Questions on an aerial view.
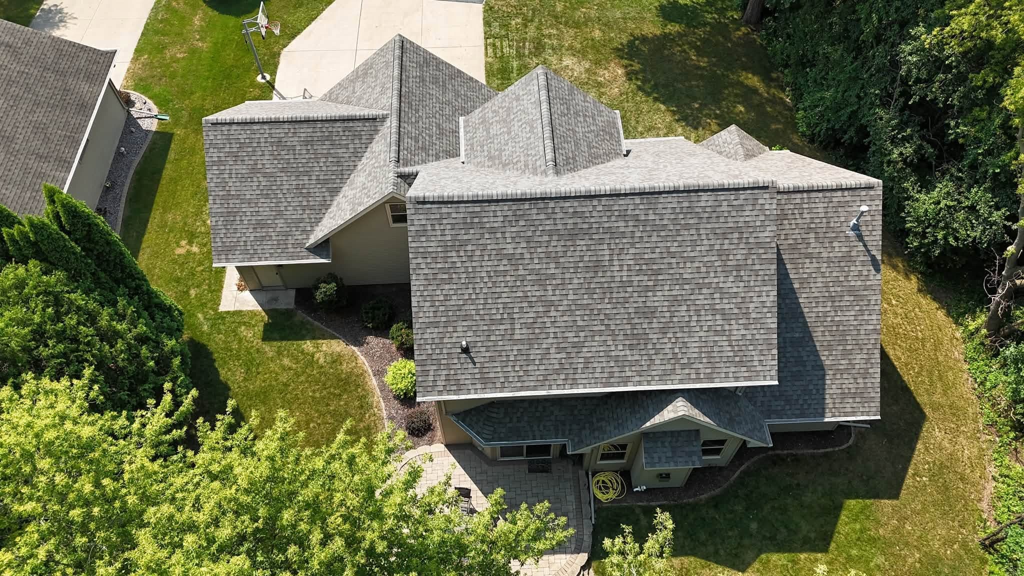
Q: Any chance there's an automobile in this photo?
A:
No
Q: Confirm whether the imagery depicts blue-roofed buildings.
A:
No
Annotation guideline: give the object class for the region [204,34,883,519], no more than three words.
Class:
house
